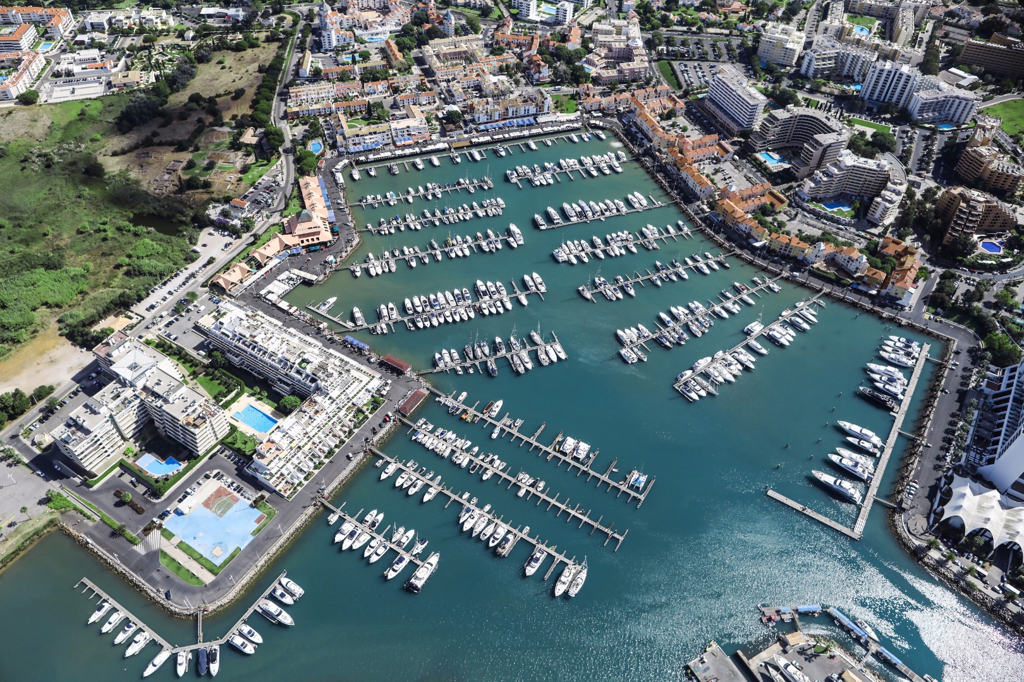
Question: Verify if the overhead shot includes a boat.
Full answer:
Yes, a boat appears in the view.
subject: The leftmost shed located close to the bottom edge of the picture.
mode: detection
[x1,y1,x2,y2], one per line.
[783,628,806,651]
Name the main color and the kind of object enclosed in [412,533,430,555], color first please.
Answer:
white boat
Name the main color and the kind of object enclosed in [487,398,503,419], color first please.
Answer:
white boat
